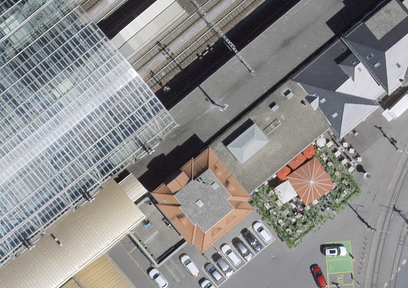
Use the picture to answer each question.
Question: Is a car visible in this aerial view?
Yes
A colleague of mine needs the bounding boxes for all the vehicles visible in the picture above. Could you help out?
[241,227,266,254]
[311,264,328,288]
[204,261,226,286]
[325,246,349,258]
[380,90,408,124]
[252,219,276,246]
[220,242,244,268]
[200,277,218,288]
[148,266,170,288]
[232,236,256,264]
[179,254,202,279]
[212,252,236,280]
